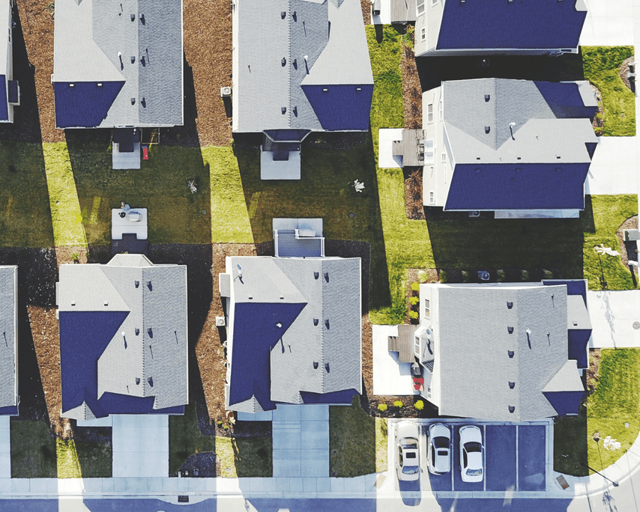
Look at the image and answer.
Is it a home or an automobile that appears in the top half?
home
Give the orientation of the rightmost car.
from top to bottom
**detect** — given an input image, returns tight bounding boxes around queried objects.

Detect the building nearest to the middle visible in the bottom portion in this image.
[215,253,361,414]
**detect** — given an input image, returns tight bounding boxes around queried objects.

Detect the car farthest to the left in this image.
[396,422,425,480]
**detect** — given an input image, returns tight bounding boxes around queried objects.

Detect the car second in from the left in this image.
[428,423,456,475]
